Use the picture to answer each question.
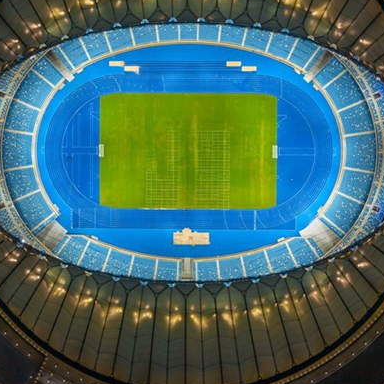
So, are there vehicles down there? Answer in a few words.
No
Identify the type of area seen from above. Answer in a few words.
sports ground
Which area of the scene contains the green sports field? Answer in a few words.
center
